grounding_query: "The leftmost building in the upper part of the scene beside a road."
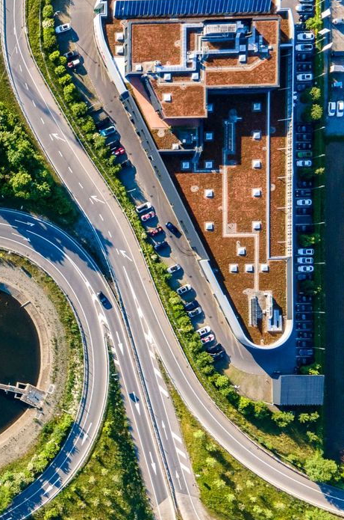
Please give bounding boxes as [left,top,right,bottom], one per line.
[91,0,295,351]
